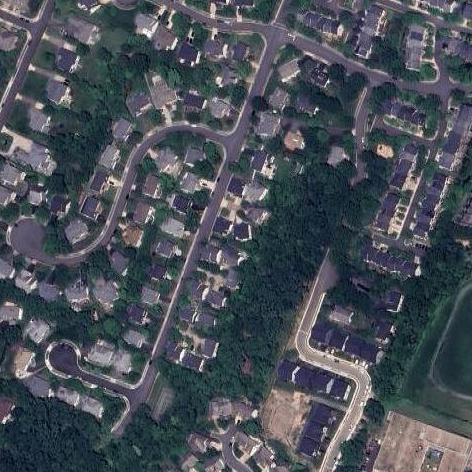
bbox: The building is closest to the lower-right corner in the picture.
[368,411,472,472]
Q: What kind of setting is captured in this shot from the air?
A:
residential area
